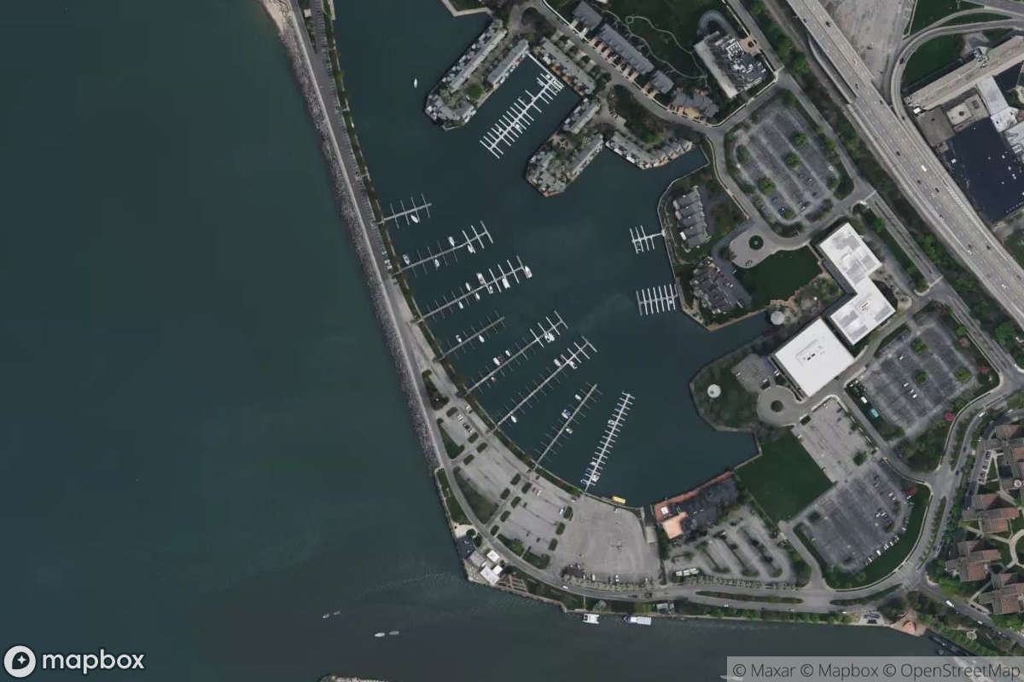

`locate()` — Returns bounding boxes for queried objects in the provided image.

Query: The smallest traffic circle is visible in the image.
[759,386,796,423]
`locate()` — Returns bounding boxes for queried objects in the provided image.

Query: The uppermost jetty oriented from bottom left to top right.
[480,59,564,158]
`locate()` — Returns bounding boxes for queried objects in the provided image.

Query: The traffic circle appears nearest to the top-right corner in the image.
[730,222,805,267]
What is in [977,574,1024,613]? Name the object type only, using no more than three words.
house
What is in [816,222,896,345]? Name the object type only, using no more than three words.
building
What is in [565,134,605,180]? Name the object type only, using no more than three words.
house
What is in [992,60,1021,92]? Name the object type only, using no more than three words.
shed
